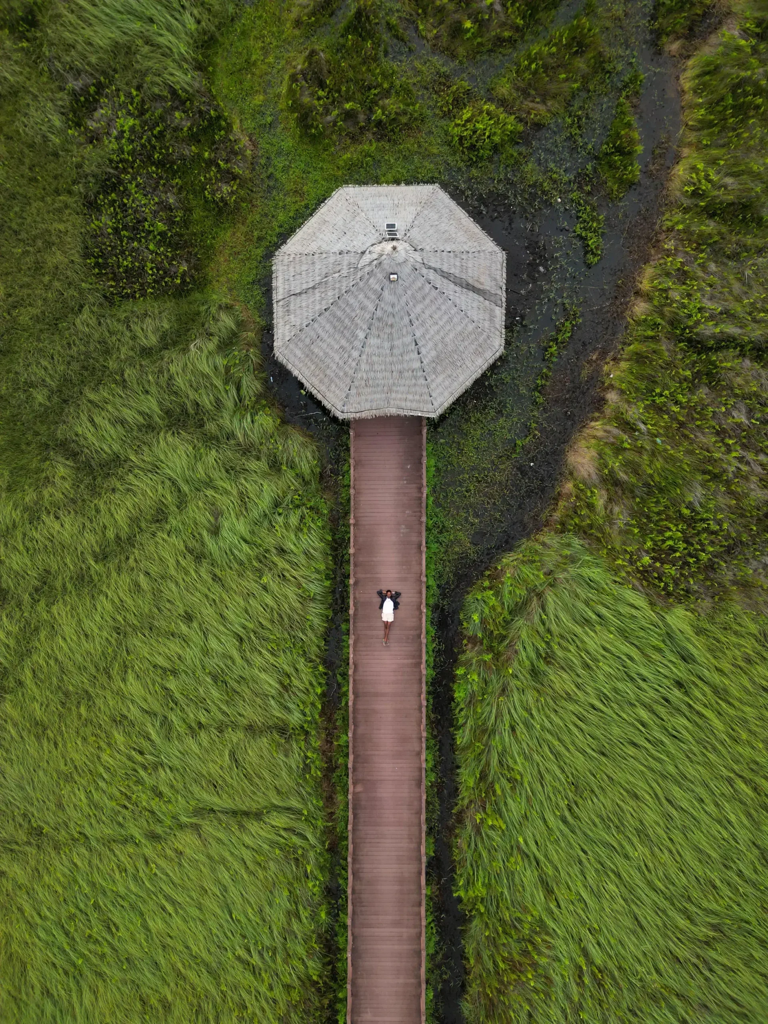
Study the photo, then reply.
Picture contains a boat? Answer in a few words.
No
